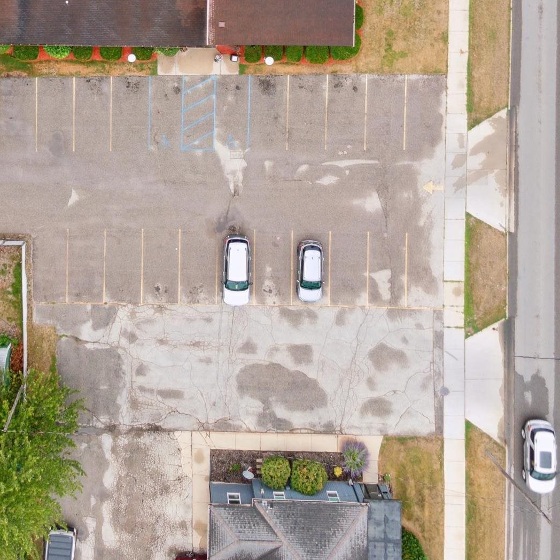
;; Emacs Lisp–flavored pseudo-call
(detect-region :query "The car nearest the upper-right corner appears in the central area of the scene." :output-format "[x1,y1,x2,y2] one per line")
[296,240,328,302]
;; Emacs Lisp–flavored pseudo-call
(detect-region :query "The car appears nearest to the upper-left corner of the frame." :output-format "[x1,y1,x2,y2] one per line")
[220,233,253,306]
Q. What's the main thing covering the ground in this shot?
paved ground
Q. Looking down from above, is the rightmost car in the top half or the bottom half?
bottom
